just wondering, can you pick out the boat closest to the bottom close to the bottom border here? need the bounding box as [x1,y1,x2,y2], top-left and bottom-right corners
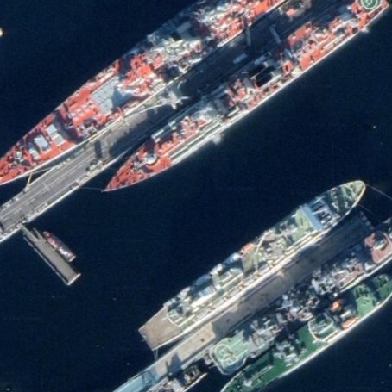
[166,368,208,392]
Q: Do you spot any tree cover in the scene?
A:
No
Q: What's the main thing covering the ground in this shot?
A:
water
